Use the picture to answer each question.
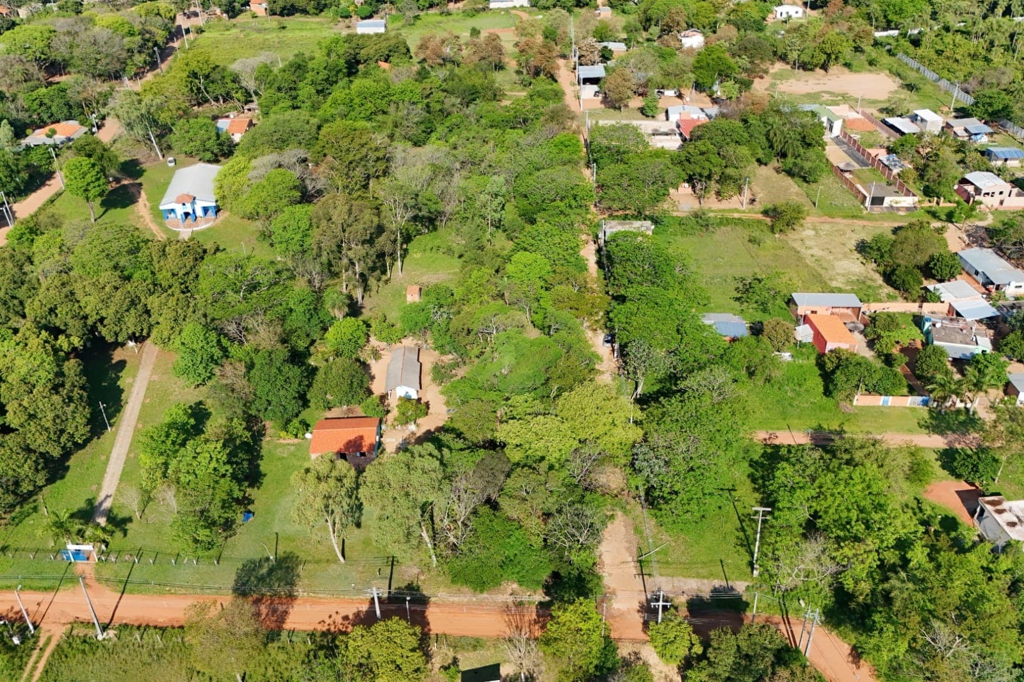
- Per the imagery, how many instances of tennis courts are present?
zero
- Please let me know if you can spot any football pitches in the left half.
No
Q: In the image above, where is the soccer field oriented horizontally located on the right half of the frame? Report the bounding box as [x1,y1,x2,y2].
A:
[784,70,902,98]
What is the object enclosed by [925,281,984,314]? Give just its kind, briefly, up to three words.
shed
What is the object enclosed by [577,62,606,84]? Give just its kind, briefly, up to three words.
barn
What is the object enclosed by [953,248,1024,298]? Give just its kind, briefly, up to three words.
house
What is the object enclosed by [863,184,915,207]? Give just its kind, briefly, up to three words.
building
